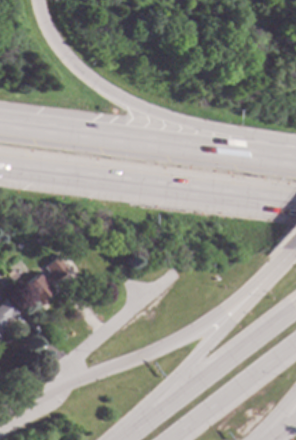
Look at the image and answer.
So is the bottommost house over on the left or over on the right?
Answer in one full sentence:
You can find the bottommost house on the left side of the picture.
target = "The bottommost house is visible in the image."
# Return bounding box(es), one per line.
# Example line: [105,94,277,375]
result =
[0,298,21,329]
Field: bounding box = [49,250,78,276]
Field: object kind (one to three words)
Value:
house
